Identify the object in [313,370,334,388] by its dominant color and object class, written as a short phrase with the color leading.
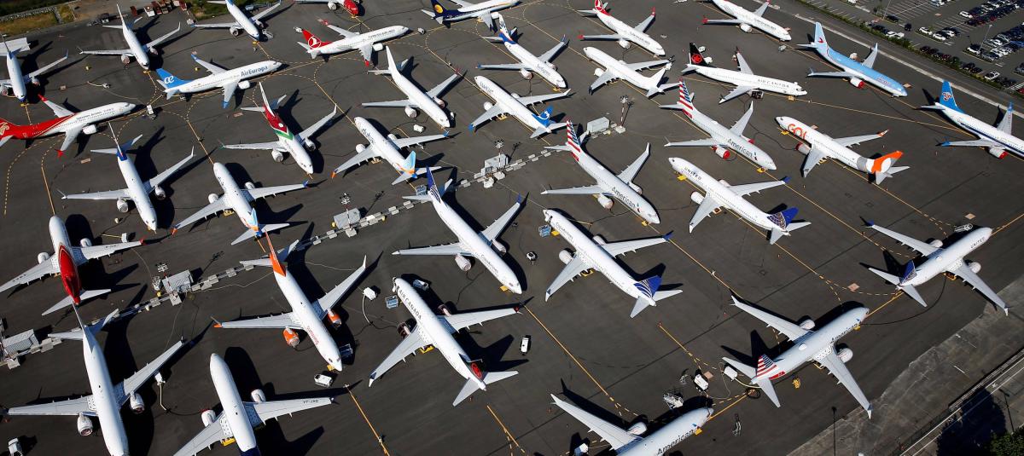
white vehicle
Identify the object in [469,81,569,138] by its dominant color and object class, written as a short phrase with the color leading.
white airplane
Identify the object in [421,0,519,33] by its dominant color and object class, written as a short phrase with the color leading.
white airplane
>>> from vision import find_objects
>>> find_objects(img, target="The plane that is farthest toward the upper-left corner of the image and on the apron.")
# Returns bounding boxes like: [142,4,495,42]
[0,33,74,108]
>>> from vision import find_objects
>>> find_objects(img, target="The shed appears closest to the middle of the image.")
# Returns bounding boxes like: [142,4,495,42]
[478,150,511,175]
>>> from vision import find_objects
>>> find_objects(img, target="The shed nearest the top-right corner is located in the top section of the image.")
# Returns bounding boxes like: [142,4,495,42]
[584,116,611,138]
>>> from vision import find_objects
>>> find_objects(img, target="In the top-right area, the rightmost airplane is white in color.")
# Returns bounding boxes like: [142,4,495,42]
[920,83,1024,164]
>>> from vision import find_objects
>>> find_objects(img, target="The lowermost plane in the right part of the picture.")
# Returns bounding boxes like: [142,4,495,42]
[553,392,712,456]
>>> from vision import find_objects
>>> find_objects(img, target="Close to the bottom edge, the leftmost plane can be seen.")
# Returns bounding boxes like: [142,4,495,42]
[0,302,191,456]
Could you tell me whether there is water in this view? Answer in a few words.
No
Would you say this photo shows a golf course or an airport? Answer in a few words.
airport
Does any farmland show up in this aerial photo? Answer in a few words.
No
